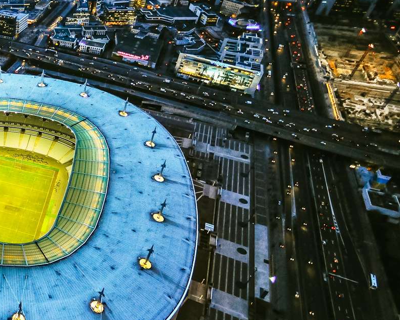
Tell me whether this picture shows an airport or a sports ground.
sports ground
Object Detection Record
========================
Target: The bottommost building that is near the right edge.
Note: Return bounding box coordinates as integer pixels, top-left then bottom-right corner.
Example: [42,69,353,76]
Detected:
[359,185,400,218]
